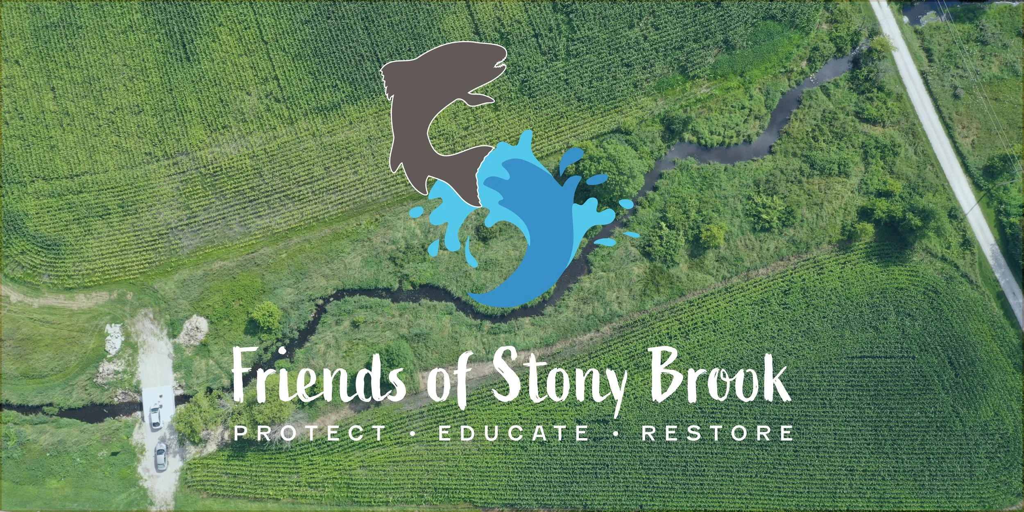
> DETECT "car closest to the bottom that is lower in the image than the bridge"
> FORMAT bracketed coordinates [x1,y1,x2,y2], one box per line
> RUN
[154,442,168,471]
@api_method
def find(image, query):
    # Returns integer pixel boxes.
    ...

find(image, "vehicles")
[148,404,163,431]
[154,442,168,471]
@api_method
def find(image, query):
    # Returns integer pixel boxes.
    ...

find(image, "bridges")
[139,385,181,424]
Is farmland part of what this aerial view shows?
Yes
